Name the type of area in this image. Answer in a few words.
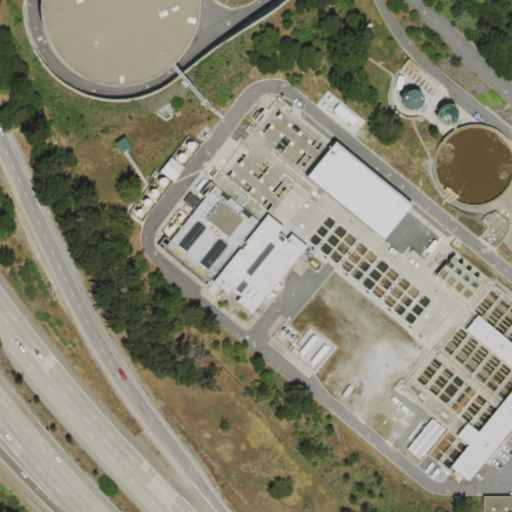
industrial area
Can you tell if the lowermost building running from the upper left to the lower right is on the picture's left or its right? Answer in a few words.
right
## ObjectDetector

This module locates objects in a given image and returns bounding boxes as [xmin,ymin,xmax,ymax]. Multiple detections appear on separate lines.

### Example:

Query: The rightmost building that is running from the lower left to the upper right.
[453,392,512,482]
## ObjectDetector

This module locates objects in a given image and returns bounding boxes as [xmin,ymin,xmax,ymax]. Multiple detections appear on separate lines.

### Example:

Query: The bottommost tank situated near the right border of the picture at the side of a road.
[433,123,512,207]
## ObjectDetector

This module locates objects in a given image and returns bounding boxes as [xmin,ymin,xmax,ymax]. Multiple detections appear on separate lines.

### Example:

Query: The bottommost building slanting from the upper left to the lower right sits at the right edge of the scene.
[467,316,512,366]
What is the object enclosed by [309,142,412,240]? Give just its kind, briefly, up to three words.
building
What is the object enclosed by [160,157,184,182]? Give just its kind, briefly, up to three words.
house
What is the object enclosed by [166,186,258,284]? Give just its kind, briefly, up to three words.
building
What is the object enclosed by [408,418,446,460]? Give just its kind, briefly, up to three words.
shed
